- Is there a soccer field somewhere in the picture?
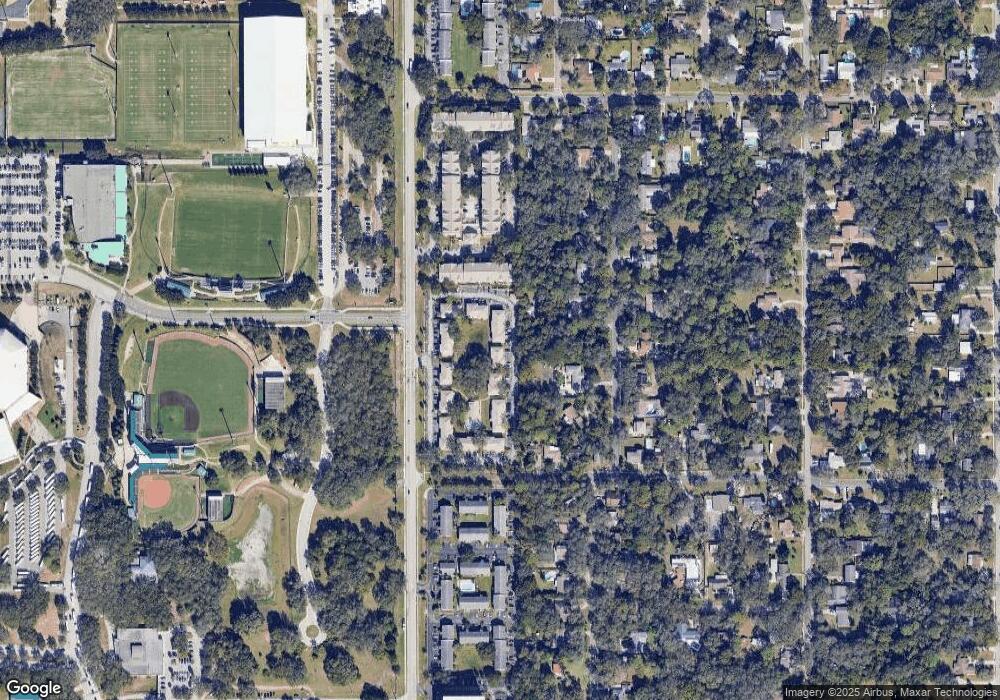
Yes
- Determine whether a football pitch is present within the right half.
No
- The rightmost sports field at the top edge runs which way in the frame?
from top to bottom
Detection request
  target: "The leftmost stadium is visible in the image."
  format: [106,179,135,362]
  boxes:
[0,326,42,464]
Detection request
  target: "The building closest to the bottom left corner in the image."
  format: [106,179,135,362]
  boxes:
[114,629,163,675]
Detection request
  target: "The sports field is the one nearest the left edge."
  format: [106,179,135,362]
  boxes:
[8,50,115,139]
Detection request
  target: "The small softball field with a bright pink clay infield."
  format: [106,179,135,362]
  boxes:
[136,474,200,532]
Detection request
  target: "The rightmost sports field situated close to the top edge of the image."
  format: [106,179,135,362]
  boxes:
[179,25,235,150]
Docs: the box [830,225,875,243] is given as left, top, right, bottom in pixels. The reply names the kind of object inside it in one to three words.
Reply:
house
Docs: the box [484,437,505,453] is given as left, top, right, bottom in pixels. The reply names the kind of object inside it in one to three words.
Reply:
building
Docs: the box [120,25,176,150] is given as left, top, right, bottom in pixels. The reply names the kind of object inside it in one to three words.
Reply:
sports field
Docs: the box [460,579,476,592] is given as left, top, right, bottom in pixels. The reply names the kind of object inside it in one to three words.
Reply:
swimming pool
